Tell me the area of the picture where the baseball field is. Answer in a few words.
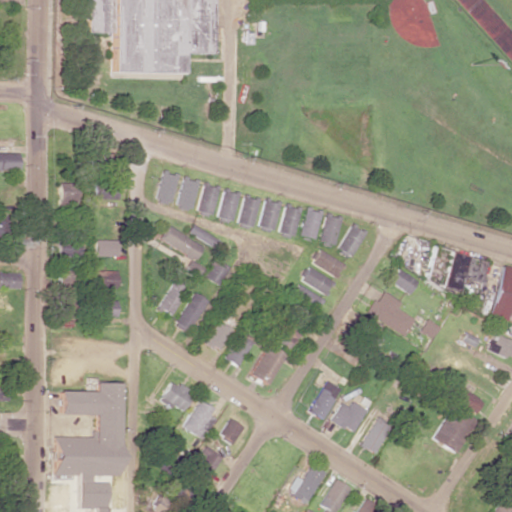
top right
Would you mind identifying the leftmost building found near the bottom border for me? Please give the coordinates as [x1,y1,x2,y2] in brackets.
[52,382,131,512]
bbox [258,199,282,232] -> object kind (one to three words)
house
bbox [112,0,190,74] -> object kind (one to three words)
building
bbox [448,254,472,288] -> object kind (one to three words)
shed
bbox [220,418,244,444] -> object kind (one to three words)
house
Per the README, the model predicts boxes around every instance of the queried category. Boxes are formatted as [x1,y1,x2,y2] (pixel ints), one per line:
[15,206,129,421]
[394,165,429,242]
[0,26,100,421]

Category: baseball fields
[389,0,440,48]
